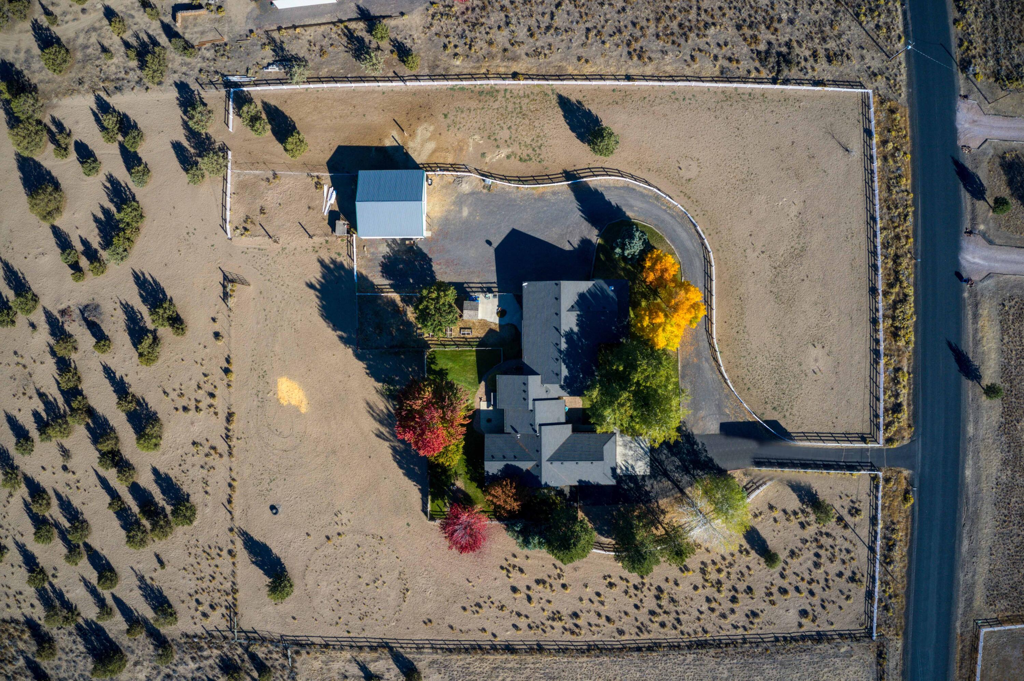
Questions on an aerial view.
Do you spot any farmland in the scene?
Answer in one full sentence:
Yes, the picture does contain farmland.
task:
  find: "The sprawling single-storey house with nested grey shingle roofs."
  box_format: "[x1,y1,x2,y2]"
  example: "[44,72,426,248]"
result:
[484,278,629,488]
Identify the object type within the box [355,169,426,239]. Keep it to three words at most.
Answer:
barn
